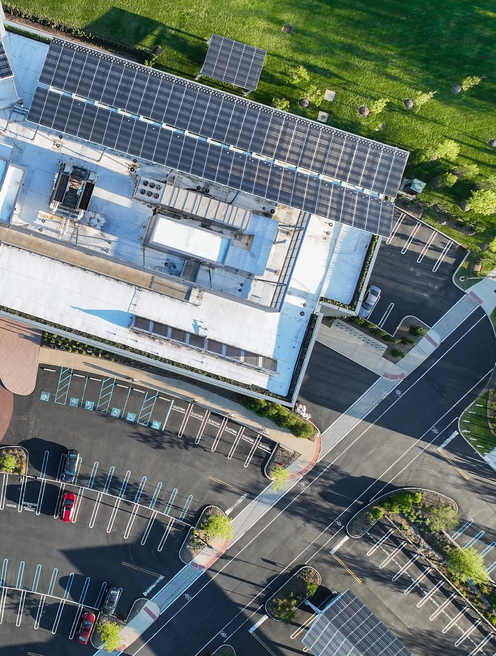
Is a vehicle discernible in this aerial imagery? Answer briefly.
Yes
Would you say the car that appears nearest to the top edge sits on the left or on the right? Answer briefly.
right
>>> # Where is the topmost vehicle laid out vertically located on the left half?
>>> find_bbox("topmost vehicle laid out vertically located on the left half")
[61,448,79,483]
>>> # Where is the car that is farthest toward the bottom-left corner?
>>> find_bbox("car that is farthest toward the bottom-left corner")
[76,611,95,645]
